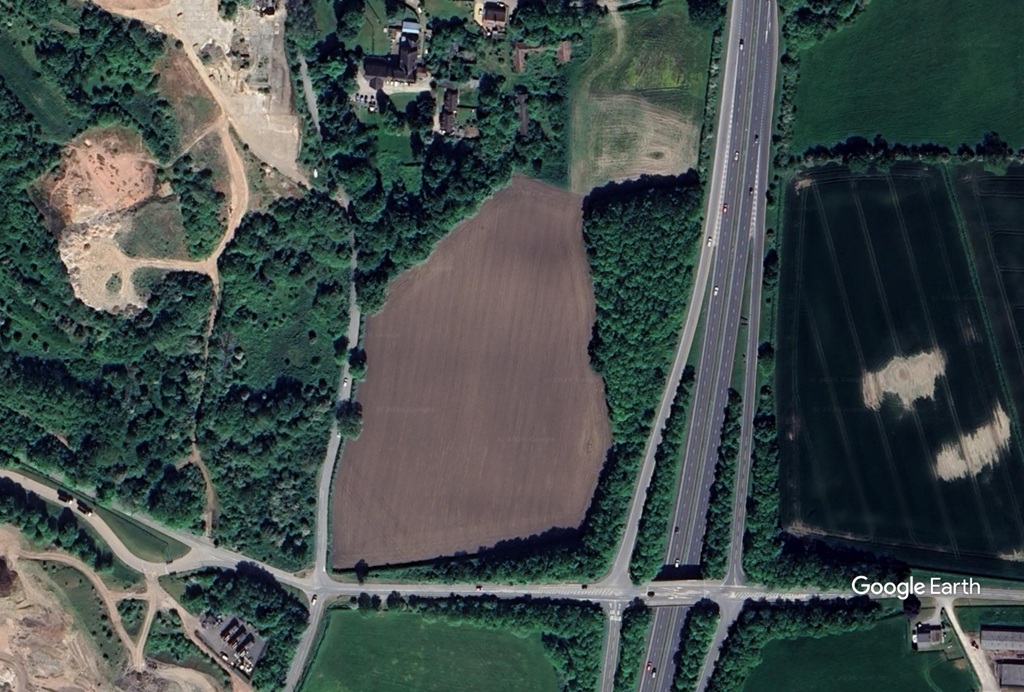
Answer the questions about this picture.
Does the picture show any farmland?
Yes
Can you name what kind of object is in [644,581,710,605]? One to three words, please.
bridge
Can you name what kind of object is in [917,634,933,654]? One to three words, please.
house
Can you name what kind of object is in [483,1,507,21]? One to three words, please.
house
